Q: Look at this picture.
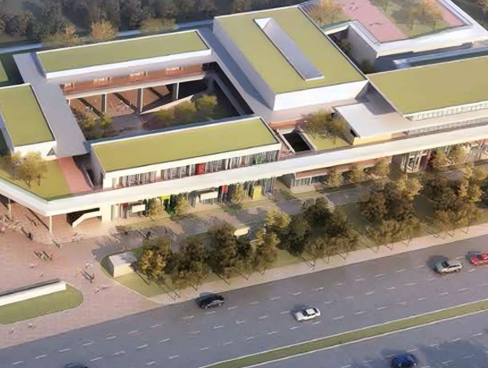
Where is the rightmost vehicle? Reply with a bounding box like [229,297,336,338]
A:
[468,250,488,264]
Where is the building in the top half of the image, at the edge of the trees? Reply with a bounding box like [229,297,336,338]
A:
[0,0,488,232]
